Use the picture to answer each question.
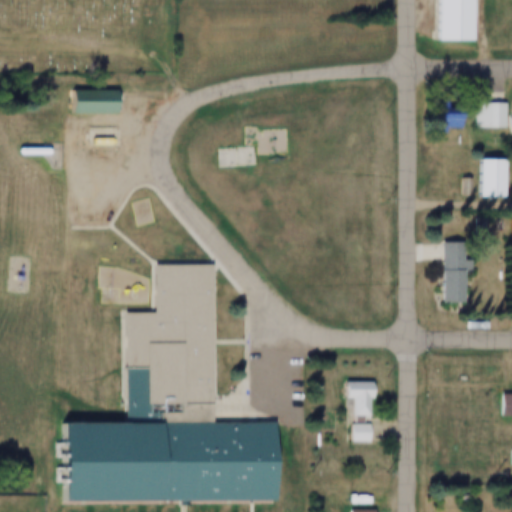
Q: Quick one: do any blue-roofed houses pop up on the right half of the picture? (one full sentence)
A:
Yes, on the right half of the picture there is a blue-roofed house.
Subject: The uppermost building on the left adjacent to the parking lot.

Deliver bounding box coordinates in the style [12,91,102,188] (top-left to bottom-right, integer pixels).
[122,264,218,423]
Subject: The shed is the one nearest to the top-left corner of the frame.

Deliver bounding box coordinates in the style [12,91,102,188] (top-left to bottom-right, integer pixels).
[74,90,123,113]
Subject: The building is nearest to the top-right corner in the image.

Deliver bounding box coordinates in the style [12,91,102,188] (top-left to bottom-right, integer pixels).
[436,0,478,42]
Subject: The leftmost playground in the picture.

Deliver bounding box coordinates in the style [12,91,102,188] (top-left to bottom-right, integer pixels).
[8,256,30,294]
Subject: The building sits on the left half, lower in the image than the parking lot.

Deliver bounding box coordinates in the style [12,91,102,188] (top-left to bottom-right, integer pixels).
[56,422,282,501]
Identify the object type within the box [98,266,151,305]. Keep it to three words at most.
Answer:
playground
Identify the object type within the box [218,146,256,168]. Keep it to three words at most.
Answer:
basketball court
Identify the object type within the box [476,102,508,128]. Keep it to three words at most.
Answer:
house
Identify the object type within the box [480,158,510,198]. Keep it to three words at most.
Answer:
shed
